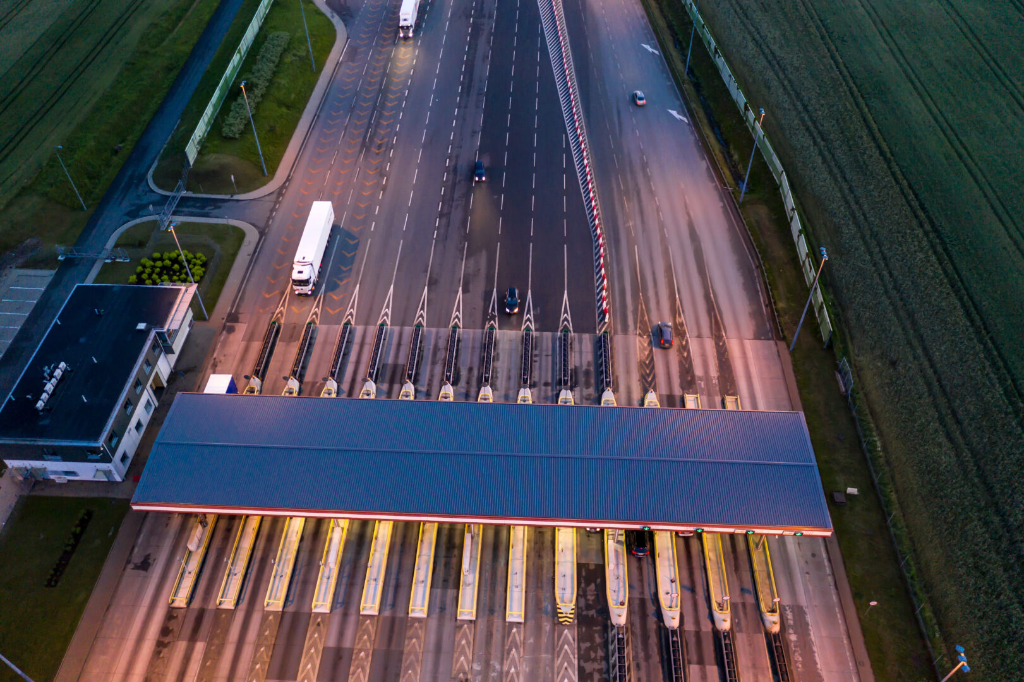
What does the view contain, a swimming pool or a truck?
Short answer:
truck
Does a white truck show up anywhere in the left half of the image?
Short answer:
Yes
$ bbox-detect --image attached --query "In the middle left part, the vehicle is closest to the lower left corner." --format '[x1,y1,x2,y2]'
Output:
[204,374,238,392]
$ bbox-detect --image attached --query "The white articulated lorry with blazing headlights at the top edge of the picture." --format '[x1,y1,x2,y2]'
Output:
[398,0,423,41]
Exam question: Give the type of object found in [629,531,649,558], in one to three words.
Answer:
car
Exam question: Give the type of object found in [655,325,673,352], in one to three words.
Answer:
car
